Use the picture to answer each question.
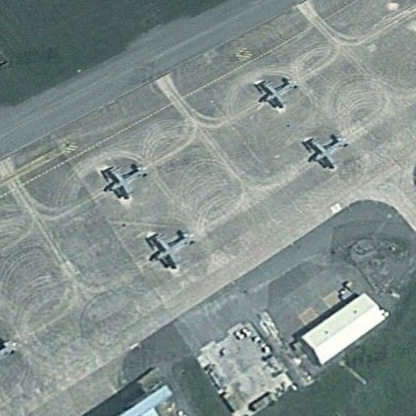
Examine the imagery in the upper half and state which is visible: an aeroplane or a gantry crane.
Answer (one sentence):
There is an aeroplane in the upper half.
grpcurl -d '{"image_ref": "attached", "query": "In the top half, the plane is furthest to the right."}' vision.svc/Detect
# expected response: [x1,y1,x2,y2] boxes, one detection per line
[309,133,351,169]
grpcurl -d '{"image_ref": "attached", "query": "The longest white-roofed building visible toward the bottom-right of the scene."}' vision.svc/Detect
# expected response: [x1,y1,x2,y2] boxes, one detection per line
[303,293,389,365]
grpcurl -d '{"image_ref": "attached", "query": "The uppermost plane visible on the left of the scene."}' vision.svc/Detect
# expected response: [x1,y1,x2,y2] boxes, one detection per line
[109,163,149,199]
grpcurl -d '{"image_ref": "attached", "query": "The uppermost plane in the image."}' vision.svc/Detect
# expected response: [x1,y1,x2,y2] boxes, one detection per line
[258,75,301,112]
